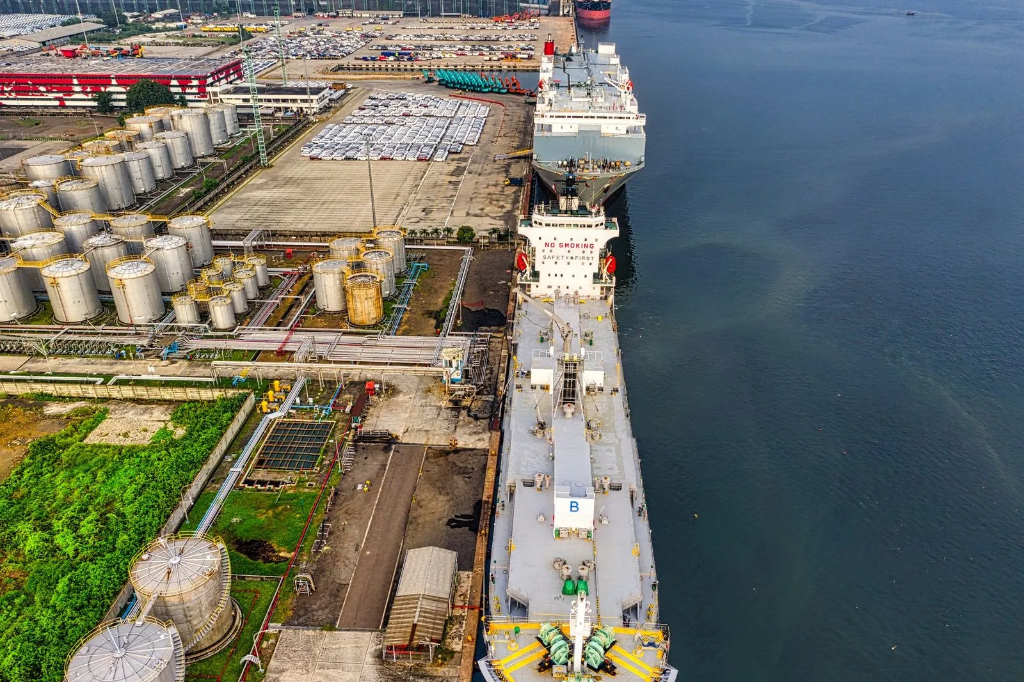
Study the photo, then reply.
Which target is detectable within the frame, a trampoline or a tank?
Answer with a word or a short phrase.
tank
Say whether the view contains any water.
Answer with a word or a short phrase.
Yes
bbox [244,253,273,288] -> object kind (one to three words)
storage tank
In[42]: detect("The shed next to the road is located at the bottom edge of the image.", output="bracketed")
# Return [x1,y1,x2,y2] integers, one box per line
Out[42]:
[377,549,460,664]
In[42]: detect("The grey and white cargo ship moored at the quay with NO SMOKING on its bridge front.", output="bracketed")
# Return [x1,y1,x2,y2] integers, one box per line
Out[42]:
[482,152,678,682]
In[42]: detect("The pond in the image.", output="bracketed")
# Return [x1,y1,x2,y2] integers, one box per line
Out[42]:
[247,416,339,475]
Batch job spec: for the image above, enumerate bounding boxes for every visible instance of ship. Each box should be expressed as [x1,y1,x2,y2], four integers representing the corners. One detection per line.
[575,0,611,18]
[482,152,678,682]
[534,30,647,203]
